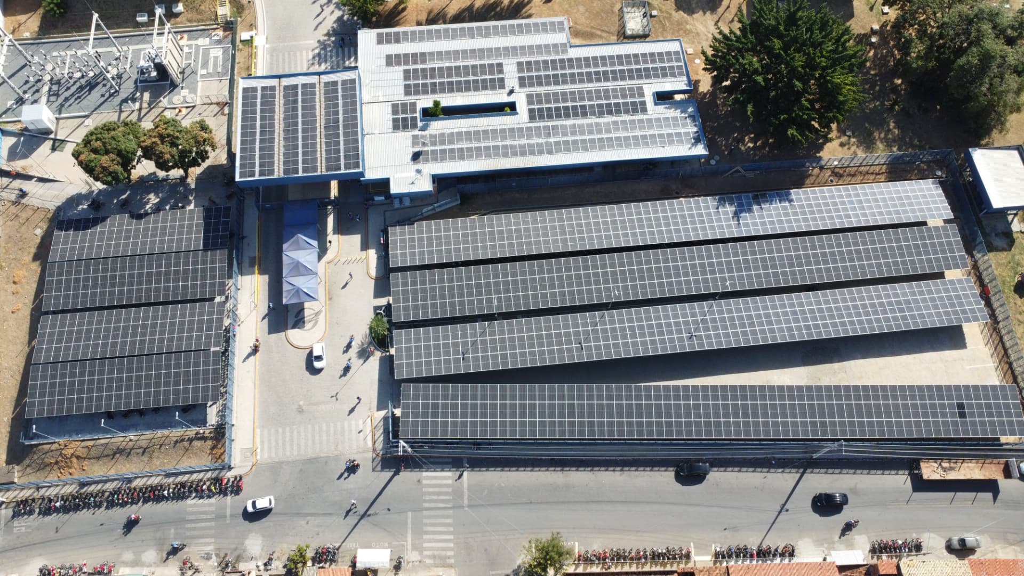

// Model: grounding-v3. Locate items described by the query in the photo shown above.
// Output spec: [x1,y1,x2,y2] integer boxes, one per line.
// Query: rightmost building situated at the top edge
[357,16,710,208]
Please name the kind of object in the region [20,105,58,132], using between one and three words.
building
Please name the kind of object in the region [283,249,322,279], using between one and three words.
tent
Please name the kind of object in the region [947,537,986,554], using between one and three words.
car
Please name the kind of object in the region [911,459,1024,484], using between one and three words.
truck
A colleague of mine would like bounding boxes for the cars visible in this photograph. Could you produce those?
[947,537,986,554]
[812,493,852,510]
[675,462,711,479]
[309,342,325,369]
[243,496,273,513]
